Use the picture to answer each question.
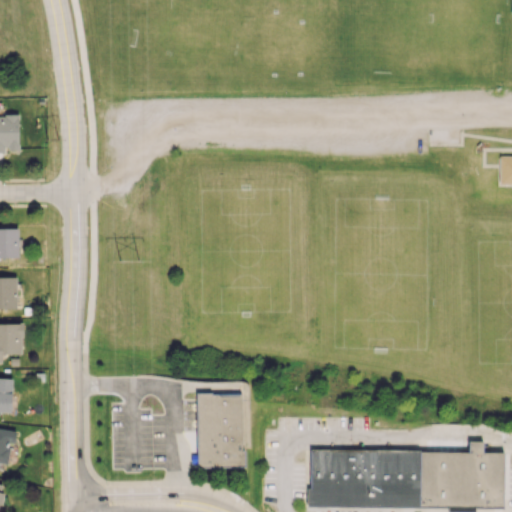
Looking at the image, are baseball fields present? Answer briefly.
No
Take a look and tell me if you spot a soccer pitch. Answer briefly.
Yes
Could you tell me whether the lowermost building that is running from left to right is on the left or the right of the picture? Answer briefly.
right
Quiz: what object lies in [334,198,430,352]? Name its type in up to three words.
soccer field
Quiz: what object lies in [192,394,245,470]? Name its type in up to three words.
building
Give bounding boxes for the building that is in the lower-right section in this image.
[307,442,506,512]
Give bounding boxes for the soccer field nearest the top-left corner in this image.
[201,188,292,314]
